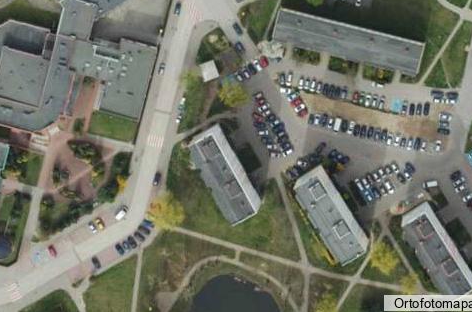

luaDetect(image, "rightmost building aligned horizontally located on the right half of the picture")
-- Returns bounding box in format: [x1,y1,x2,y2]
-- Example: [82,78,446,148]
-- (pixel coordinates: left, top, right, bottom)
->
[272,5,426,78]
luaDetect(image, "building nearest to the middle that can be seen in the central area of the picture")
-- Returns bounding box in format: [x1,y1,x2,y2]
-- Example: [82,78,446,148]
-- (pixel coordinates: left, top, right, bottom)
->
[192,118,264,225]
